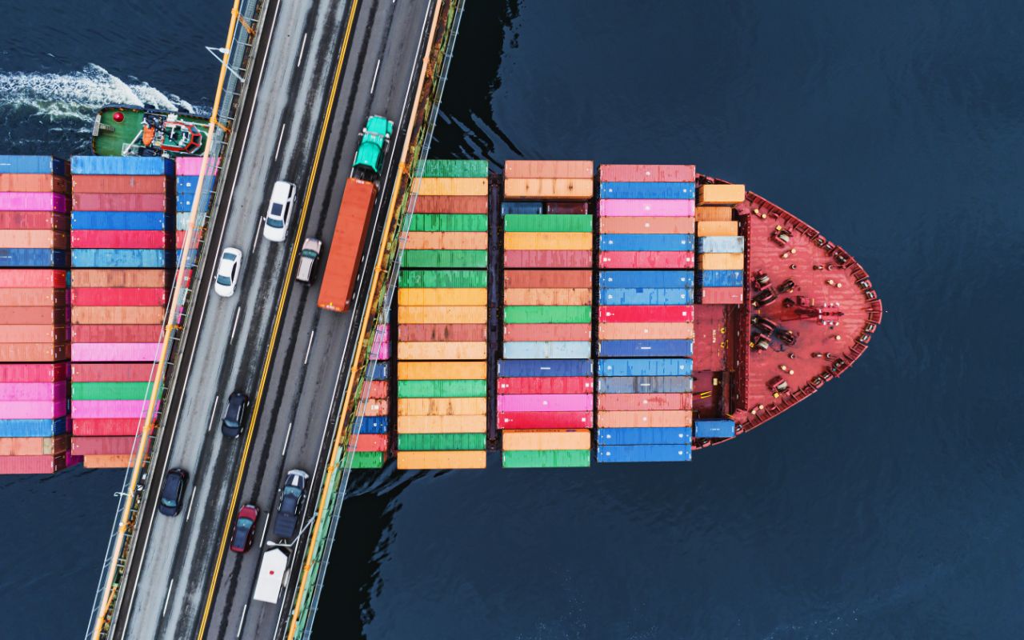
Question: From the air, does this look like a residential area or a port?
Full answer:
This image shows a port.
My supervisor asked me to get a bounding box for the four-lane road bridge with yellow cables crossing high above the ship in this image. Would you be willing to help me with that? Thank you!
[88,0,467,640]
